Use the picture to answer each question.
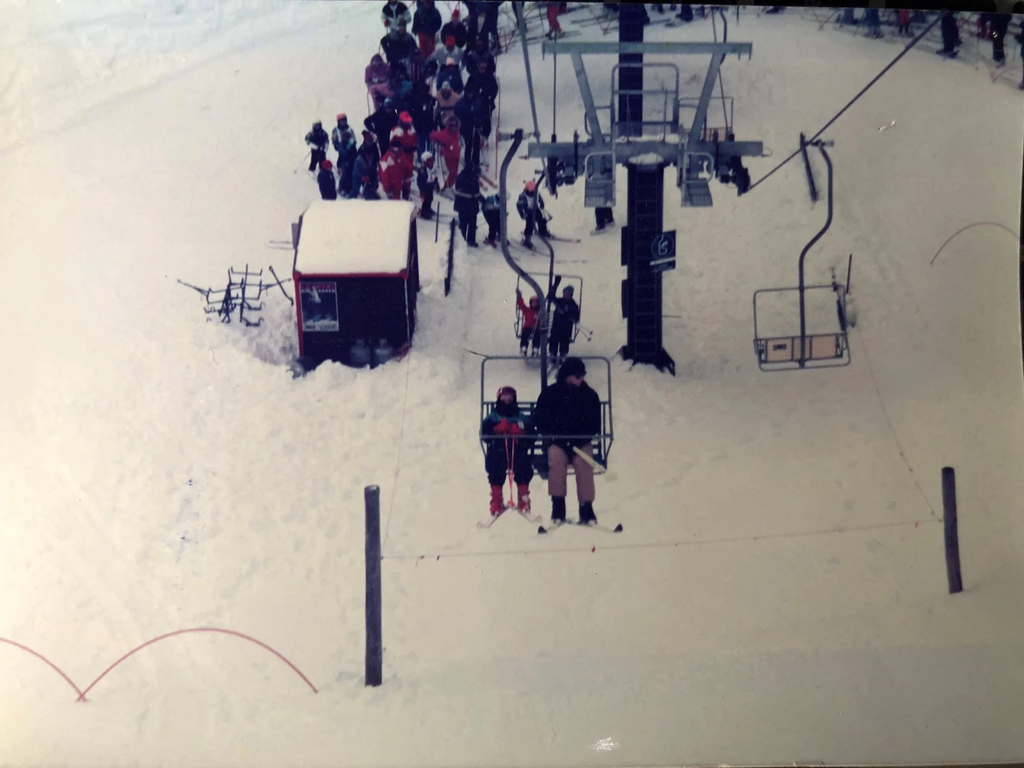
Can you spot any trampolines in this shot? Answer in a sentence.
No, I find no trampoline anywhere in the image.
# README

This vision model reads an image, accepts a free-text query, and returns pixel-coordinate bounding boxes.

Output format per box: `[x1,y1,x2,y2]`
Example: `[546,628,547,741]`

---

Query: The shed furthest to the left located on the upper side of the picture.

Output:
[286,204,419,381]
